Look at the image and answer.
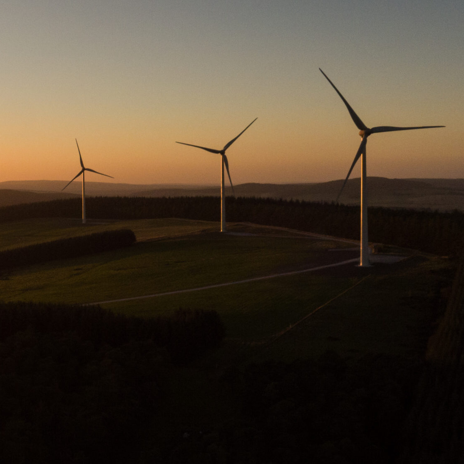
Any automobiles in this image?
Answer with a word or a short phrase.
No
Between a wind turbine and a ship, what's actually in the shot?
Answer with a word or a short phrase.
wind turbine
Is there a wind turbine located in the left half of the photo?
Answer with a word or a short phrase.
Yes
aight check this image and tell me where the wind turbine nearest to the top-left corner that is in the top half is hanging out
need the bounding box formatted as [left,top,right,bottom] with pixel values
[63,136,117,223]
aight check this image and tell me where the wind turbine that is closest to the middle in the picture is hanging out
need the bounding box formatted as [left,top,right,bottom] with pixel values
[179,118,258,232]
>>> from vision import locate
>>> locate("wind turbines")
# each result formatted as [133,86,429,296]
[63,136,117,223]
[179,118,258,232]
[325,68,448,268]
